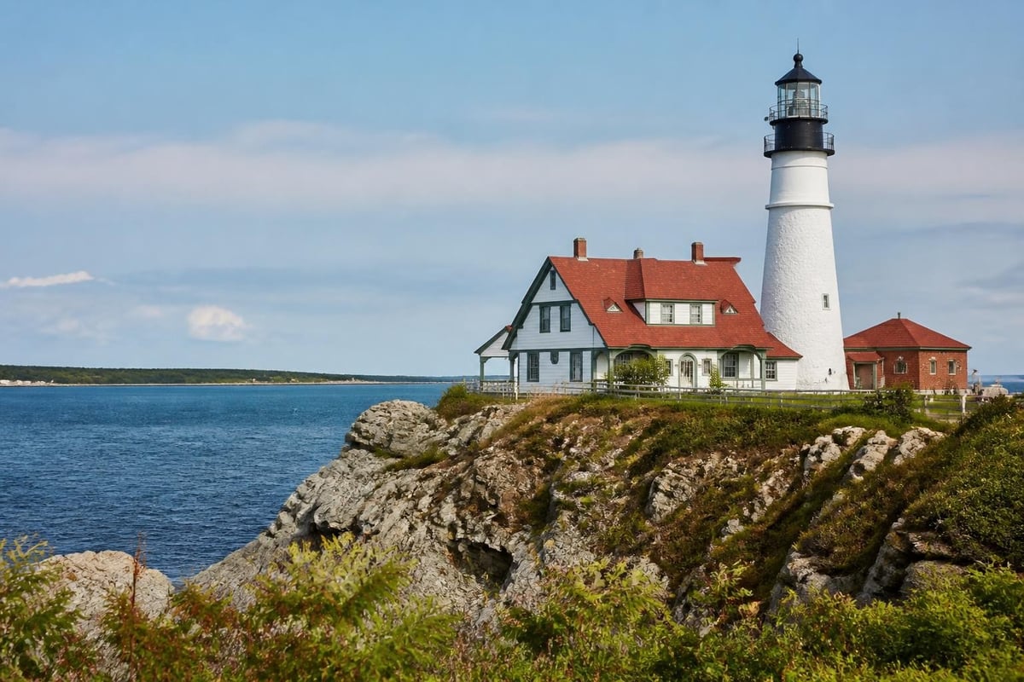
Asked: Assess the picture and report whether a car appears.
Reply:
No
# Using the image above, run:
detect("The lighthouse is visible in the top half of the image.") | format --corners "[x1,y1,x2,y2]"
[760,48,844,390]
